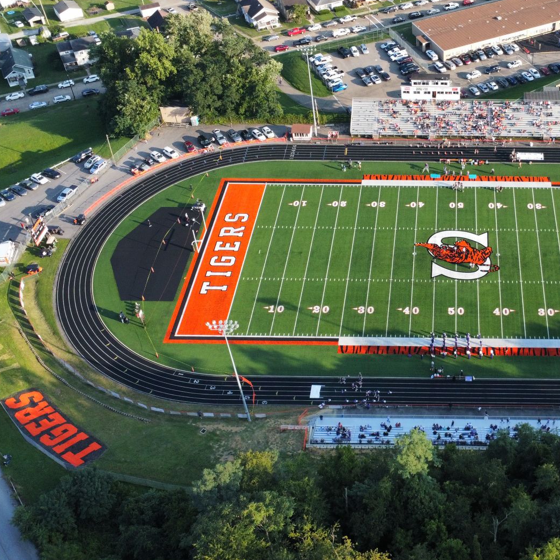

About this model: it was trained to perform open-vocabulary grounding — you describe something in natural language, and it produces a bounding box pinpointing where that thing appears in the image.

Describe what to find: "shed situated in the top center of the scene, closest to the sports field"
[291,120,312,141]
